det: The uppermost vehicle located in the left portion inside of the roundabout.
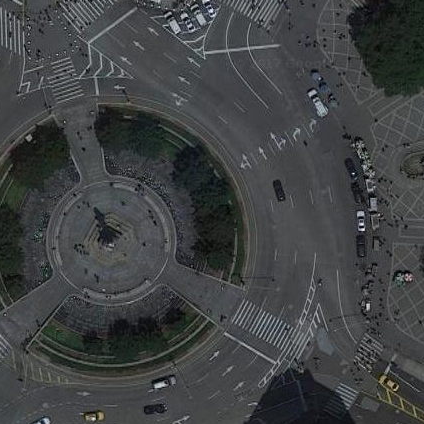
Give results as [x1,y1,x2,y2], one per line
[151,374,177,390]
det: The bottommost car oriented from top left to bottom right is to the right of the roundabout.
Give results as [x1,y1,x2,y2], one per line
[378,374,401,393]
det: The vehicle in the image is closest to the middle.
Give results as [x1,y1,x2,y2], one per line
[271,178,288,202]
